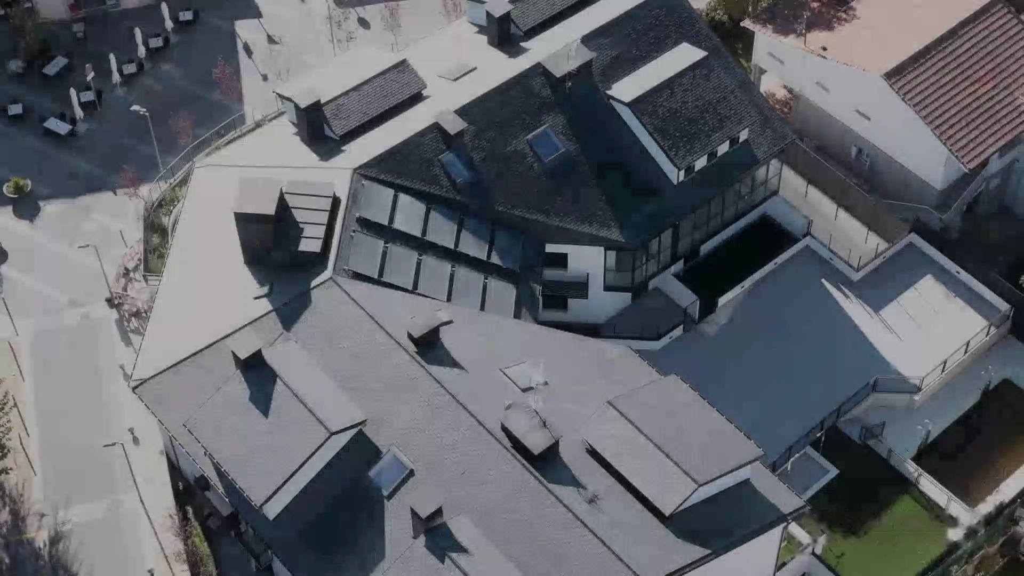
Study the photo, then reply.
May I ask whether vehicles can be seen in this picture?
No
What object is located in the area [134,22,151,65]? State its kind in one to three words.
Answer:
umbrella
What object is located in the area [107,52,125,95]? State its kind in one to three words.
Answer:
umbrella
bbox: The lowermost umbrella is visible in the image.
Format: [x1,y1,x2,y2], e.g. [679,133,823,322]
[69,81,88,124]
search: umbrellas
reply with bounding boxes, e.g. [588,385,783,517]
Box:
[161,0,178,37]
[69,81,88,124]
[134,22,151,65]
[107,52,125,95]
